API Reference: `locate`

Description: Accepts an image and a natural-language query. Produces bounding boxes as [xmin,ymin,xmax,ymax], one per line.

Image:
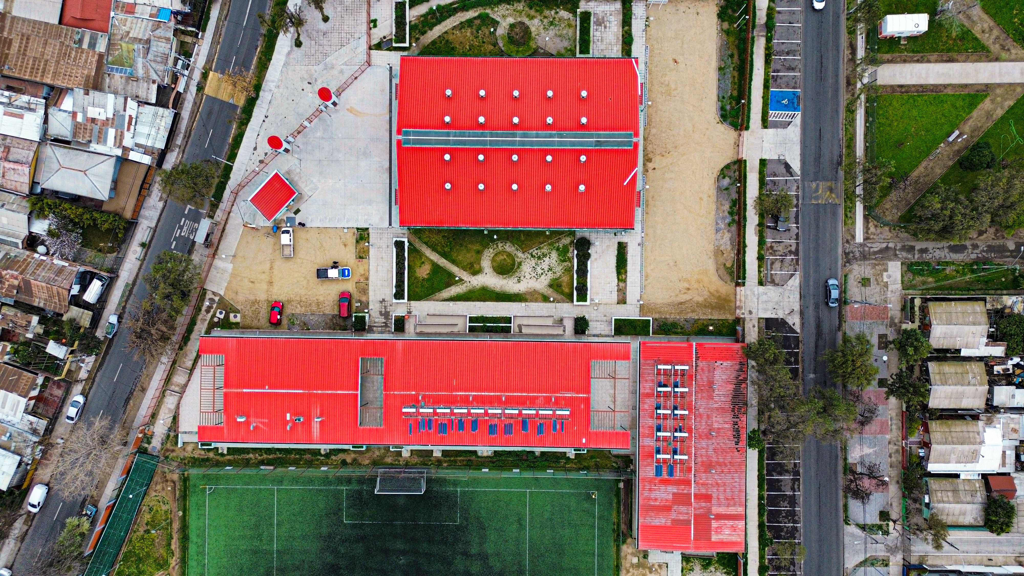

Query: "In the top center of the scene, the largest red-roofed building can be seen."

[395,55,643,230]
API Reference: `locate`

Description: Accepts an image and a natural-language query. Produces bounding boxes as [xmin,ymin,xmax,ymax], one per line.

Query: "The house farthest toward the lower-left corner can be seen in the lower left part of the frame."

[0,442,42,491]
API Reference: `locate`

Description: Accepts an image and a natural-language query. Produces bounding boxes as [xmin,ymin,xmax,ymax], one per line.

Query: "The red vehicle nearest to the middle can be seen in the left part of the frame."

[338,291,352,318]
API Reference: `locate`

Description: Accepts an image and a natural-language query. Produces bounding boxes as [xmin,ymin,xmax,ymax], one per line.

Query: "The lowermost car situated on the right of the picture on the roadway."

[824,278,840,308]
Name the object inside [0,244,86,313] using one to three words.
house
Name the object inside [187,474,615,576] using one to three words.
soccer field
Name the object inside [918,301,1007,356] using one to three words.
house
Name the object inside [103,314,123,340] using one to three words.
car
